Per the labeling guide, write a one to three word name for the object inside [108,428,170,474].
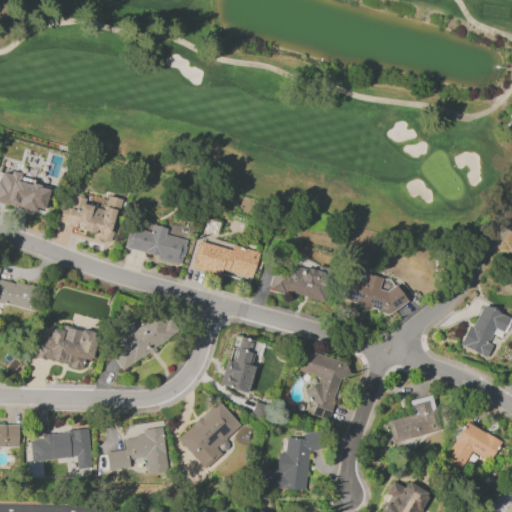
house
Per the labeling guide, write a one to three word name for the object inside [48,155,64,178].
swimming pool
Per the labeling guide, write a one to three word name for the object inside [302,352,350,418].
house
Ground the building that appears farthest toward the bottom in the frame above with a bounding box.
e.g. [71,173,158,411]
[381,478,432,512]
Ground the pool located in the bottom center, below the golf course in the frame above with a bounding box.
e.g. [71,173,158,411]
[290,376,304,404]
